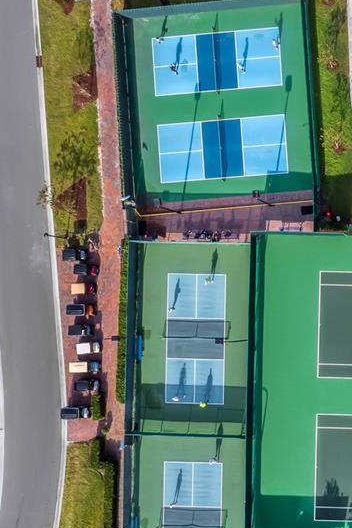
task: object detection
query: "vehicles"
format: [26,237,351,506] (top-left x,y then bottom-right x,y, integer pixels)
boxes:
[69,360,97,373]
[76,342,102,355]
[66,304,94,316]
[61,405,88,418]
[68,325,95,337]
[70,283,97,295]
[73,263,100,276]
[62,248,88,261]
[74,377,101,391]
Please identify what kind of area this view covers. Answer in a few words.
sports ground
